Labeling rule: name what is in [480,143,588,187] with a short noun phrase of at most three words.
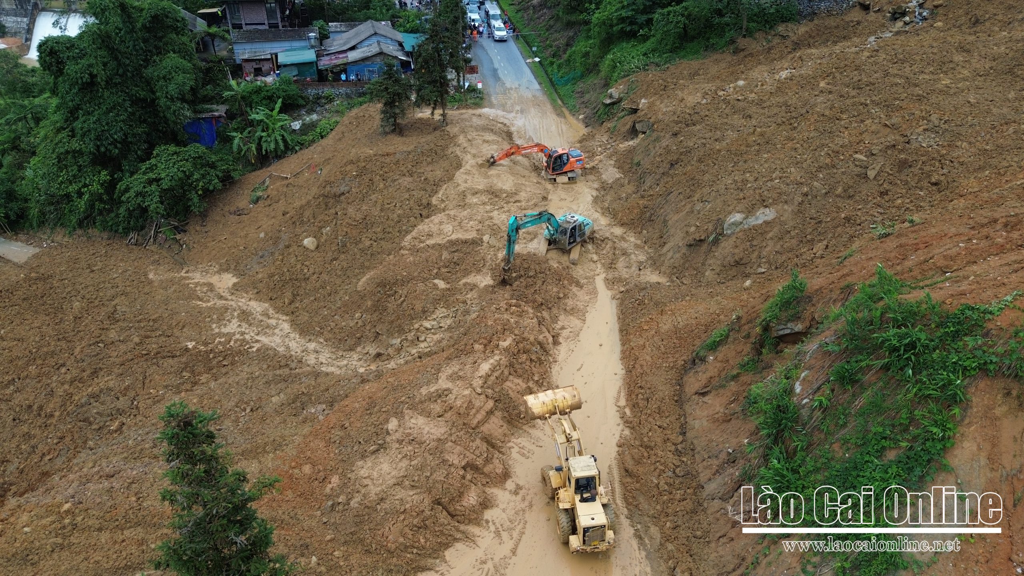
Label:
work vehicle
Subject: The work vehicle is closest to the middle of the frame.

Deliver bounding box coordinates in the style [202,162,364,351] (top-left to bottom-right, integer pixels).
[496,210,600,282]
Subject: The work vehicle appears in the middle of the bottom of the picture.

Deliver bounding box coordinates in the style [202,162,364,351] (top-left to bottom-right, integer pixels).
[521,391,616,557]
